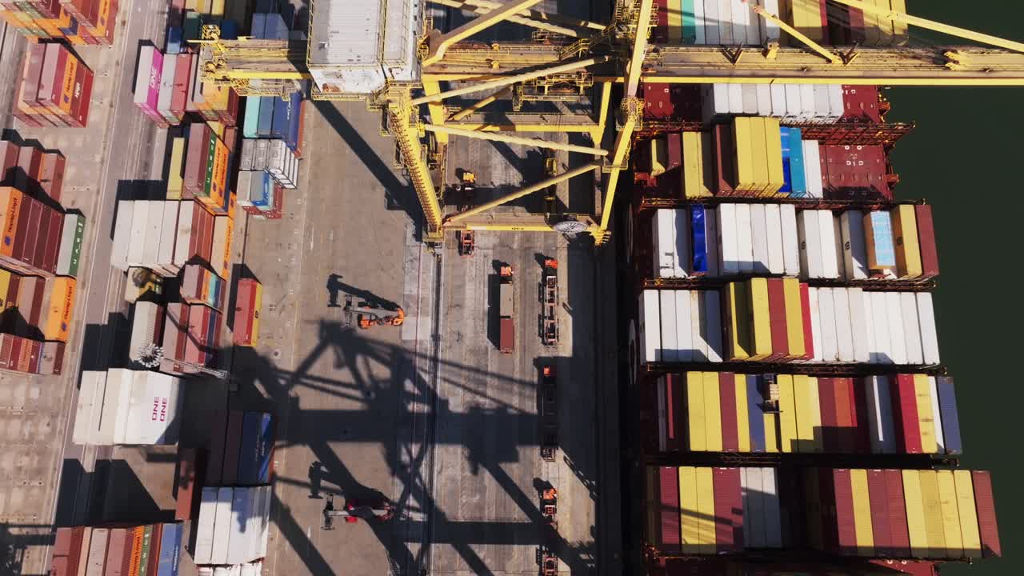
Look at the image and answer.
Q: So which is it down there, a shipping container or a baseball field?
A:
shipping container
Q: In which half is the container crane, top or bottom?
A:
top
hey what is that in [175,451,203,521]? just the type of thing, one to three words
shipping container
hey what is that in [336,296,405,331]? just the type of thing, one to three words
work vehicle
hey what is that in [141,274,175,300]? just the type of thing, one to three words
truck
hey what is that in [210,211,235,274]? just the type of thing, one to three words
shipping container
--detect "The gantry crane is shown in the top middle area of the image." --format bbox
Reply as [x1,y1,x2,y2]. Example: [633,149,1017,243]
[174,0,1024,263]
